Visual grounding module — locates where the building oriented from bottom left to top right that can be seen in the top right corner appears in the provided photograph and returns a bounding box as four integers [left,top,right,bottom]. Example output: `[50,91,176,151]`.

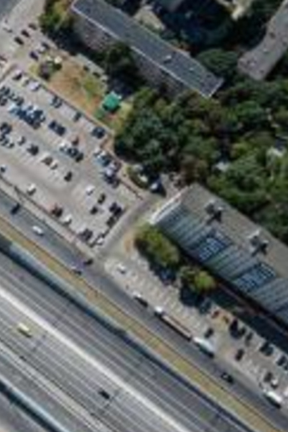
[223,11,288,98]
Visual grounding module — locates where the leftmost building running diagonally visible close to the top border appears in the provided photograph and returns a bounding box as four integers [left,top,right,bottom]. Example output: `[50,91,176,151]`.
[69,0,223,110]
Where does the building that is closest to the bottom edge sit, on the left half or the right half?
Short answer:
right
